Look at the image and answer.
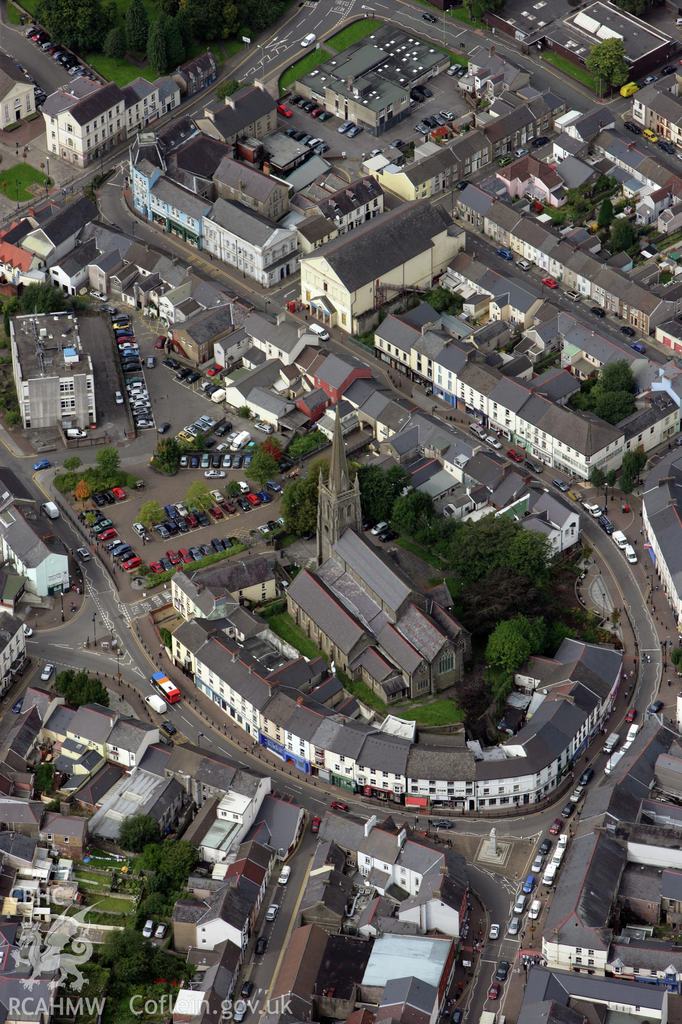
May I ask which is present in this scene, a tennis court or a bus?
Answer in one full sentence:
I can see a bus in this picture.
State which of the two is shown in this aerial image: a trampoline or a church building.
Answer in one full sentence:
There is a church building in the scene.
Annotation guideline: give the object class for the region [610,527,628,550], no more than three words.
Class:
vehicle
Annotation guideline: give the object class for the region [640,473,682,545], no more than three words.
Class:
building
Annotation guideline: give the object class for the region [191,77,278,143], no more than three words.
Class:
house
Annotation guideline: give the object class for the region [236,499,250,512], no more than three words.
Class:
vehicle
